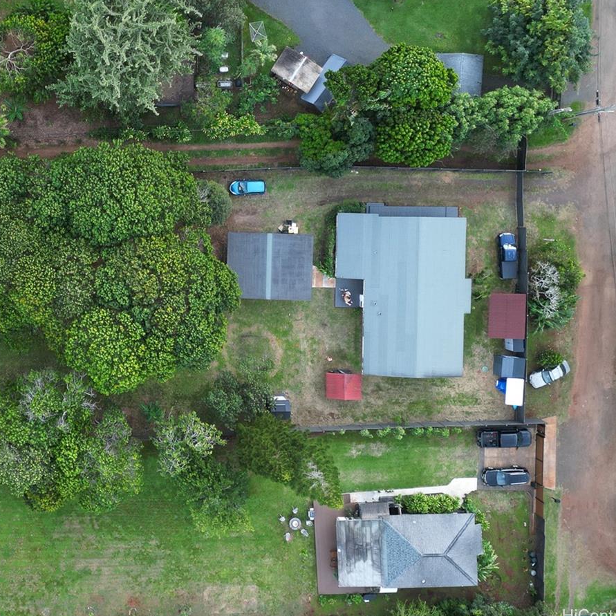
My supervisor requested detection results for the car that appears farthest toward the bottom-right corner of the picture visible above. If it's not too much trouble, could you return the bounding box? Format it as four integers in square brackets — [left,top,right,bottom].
[480,466,530,488]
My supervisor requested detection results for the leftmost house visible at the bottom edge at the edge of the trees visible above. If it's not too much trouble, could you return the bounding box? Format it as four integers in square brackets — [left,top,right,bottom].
[336,497,483,593]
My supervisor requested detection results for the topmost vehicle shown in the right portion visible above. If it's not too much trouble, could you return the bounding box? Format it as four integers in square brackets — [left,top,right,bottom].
[495,232,520,281]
